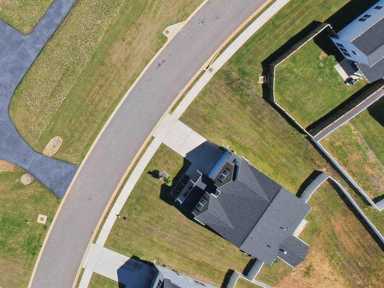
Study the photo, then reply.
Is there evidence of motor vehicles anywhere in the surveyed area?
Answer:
No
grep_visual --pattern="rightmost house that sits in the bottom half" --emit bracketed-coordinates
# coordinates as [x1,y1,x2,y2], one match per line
[185,151,313,269]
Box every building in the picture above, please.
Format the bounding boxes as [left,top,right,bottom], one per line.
[185,151,313,269]
[141,264,200,288]
[334,1,384,84]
